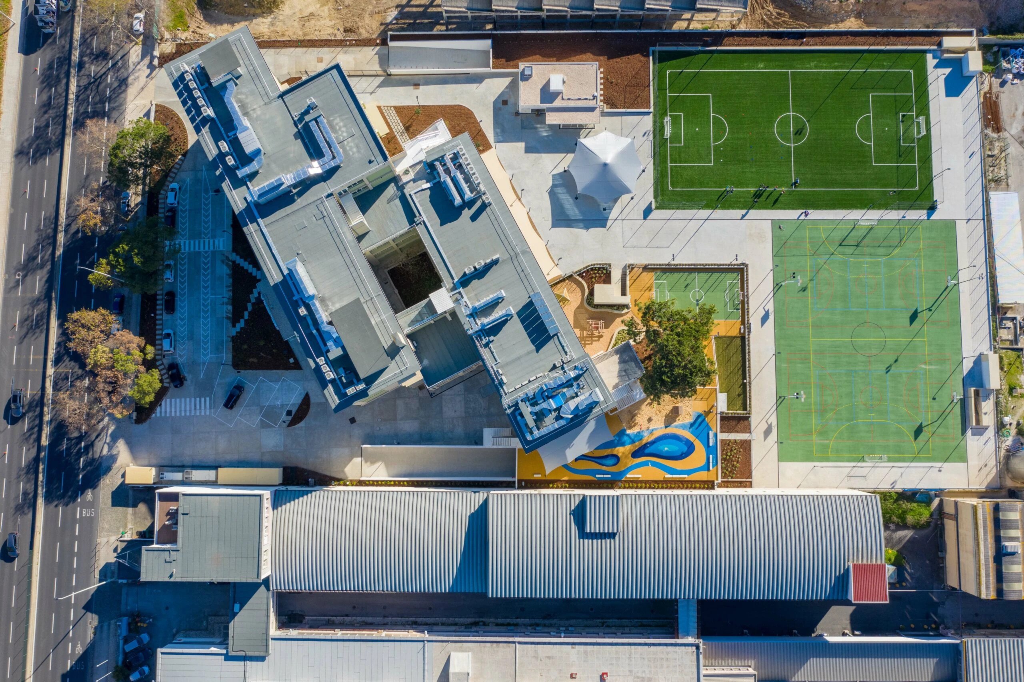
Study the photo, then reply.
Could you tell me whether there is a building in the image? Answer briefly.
Yes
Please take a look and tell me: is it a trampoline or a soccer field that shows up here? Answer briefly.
soccer field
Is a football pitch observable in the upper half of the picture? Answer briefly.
Yes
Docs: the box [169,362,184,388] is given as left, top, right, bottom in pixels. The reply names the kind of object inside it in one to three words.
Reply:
car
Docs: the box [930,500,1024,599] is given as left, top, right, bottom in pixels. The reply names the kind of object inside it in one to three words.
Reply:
shed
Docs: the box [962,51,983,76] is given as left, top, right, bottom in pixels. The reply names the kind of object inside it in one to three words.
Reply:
building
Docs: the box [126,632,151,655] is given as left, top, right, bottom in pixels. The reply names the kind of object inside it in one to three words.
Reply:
vehicle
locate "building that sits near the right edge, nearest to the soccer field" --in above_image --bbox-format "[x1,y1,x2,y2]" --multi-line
[939,36,976,50]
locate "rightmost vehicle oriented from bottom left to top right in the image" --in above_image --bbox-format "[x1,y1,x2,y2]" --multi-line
[223,384,244,410]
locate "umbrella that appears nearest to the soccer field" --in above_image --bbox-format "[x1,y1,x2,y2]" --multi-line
[553,287,570,302]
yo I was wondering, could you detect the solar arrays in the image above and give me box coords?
[530,292,559,337]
